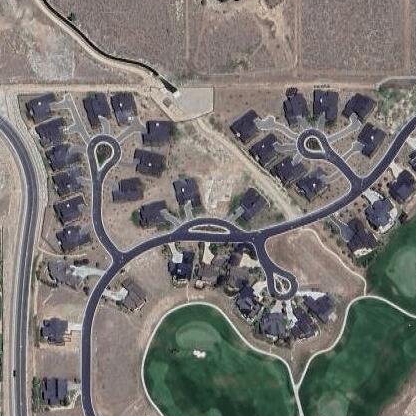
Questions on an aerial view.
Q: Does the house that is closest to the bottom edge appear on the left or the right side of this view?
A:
left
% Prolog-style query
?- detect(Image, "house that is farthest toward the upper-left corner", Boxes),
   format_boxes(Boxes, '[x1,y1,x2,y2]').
[25,96,54,123]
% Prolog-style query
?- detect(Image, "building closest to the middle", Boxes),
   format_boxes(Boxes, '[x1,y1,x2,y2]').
[173,177,201,206]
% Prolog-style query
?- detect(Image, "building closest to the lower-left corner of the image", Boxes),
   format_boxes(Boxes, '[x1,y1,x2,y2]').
[42,380,68,406]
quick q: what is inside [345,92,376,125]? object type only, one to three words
house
